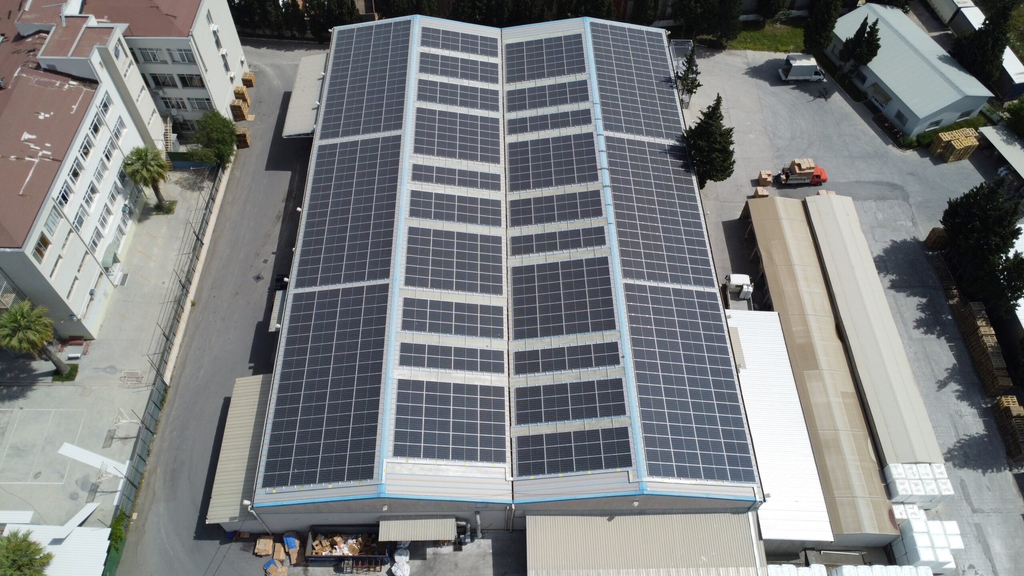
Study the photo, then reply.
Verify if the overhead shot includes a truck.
Yes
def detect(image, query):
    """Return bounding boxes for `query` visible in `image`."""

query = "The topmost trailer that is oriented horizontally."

[901,0,969,29]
